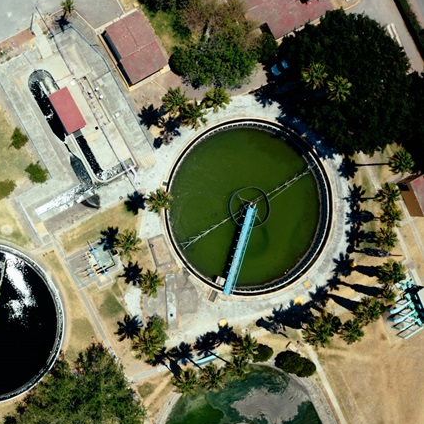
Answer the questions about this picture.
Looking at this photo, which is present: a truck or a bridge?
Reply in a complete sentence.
The one in the frame is a bridge.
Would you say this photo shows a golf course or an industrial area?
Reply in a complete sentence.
It's an industrial area.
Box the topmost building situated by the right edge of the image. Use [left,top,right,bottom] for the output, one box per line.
[394,167,424,217]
